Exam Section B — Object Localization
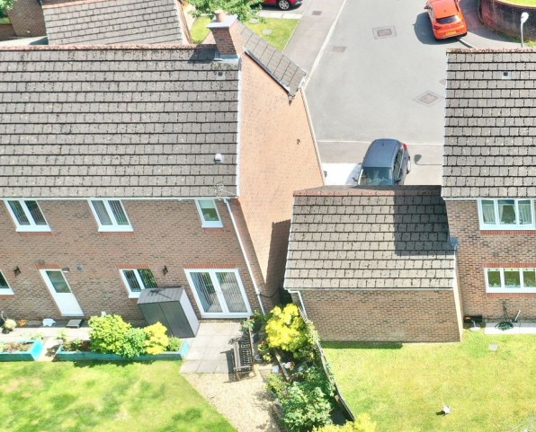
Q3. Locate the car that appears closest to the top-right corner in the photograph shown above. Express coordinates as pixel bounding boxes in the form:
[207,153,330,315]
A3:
[428,0,470,34]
